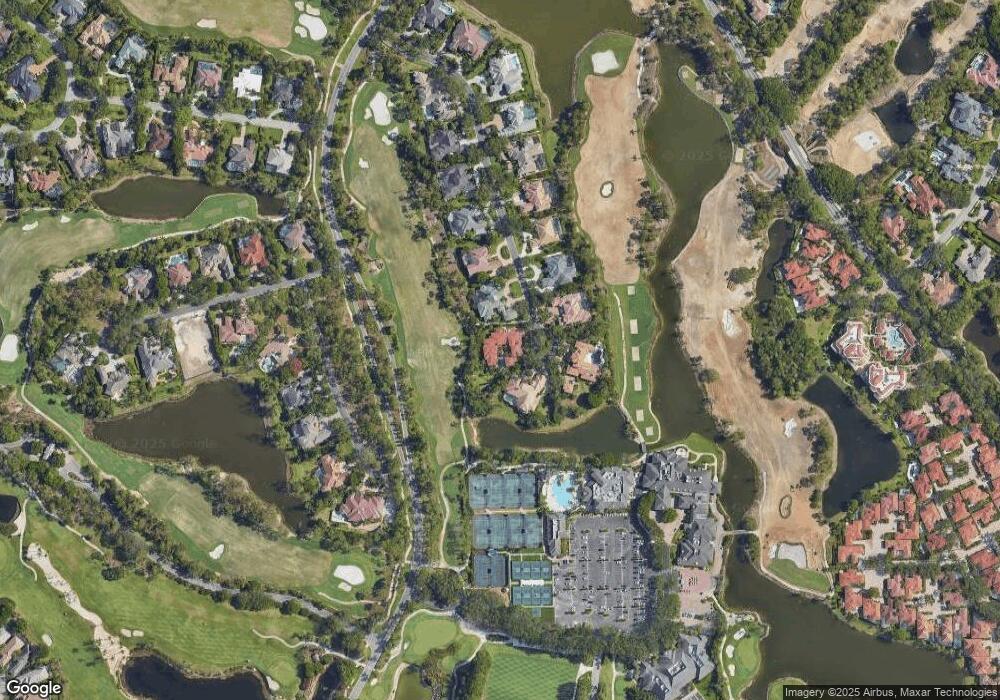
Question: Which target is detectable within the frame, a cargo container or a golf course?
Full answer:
Looking from above, you can make out a golf course.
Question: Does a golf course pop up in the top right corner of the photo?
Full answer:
Yes, looking in the top right corner of the photo, one can make out a golf course.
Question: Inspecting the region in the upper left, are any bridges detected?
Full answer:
No, there is no bridge in the upper left.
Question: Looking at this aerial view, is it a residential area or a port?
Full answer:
The area seen from above is a residential area.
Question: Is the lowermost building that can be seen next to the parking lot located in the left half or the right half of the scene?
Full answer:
The lowermost building that can be seen next to the parking lot appears in the right half of the scene.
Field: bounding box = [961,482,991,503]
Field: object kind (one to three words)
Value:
house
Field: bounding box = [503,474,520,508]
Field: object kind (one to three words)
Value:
tennis court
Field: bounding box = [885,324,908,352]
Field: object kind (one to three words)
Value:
swimming pool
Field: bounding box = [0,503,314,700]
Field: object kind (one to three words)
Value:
golf course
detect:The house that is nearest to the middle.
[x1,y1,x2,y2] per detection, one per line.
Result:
[479,323,528,369]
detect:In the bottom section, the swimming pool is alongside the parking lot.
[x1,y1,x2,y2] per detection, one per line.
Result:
[553,473,574,511]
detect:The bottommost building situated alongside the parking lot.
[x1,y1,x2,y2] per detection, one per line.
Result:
[640,637,721,700]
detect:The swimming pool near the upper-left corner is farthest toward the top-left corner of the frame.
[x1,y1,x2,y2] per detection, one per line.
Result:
[104,15,122,35]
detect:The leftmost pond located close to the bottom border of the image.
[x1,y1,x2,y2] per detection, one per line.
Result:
[123,655,267,700]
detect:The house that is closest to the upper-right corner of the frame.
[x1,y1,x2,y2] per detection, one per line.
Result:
[966,51,1000,90]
